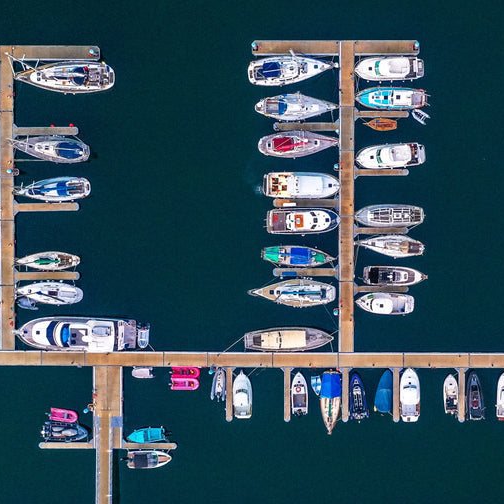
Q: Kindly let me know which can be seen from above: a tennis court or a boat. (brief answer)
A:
boat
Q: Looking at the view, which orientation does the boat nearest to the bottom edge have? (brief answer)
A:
from left to right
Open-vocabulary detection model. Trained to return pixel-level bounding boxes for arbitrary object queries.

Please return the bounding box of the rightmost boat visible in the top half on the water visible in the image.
[413,108,431,124]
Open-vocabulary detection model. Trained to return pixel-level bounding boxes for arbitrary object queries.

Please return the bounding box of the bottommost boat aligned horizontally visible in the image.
[118,449,172,469]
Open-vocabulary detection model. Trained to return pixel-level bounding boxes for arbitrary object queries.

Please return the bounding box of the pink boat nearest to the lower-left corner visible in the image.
[47,407,77,424]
